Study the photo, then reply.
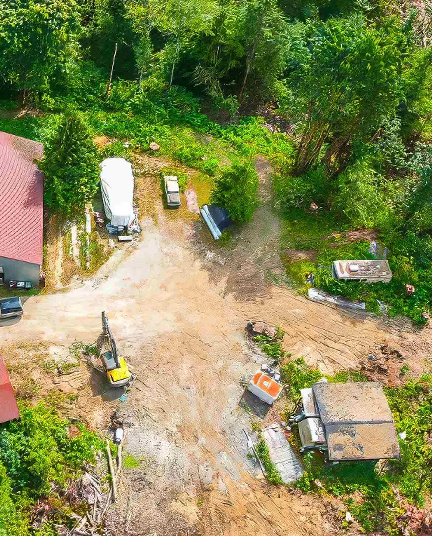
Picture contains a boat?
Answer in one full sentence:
Yes, there is a boat in the image.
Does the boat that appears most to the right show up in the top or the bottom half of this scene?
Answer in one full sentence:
It is in the bottom half that the boat that appears most to the right appears.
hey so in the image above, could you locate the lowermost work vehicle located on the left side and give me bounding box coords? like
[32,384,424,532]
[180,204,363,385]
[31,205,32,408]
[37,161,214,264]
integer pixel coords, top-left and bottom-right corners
[99,309,151,414]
